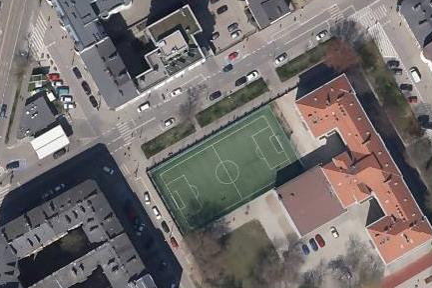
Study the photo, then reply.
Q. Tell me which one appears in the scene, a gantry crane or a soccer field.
soccer field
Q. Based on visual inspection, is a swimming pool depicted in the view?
No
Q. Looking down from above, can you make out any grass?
Yes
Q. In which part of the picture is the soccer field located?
center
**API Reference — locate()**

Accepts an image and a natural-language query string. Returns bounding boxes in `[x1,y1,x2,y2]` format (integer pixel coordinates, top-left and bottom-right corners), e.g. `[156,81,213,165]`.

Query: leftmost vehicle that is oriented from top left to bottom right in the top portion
[44,88,57,104]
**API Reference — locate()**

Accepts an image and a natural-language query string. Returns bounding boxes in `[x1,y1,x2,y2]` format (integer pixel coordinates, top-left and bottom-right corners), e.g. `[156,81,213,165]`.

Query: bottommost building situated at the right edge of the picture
[294,71,432,266]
